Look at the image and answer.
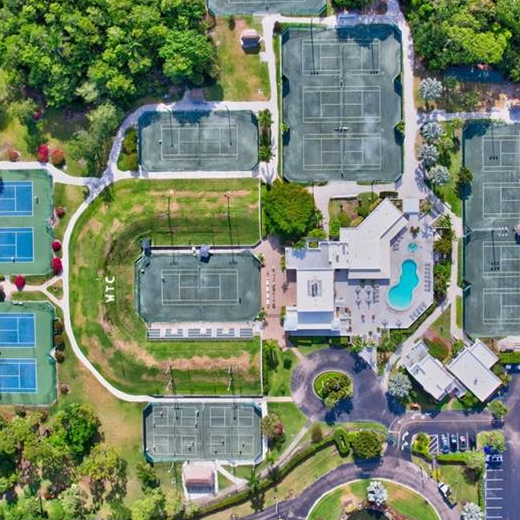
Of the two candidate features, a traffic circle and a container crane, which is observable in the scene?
traffic circle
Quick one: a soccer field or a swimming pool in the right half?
swimming pool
